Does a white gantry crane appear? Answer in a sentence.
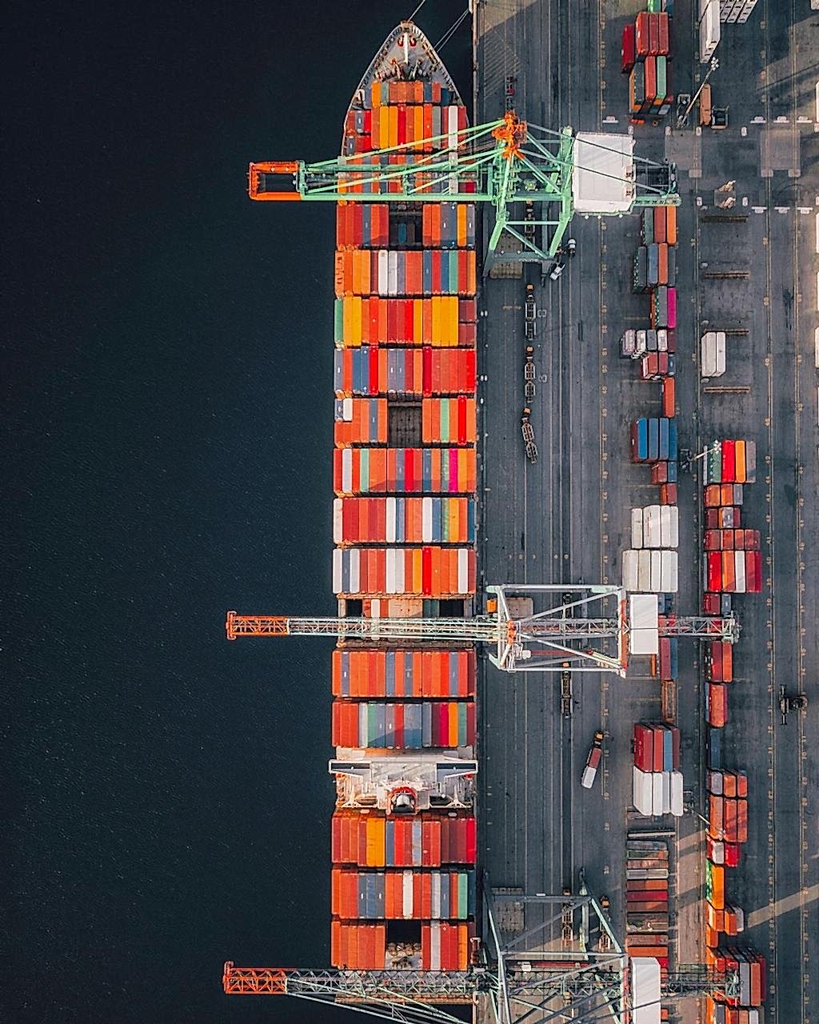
Yes, the image includes a white gantry crane.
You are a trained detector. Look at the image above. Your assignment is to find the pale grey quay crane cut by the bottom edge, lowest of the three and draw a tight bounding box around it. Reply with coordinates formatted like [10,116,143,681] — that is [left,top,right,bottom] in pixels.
[221,870,744,1024]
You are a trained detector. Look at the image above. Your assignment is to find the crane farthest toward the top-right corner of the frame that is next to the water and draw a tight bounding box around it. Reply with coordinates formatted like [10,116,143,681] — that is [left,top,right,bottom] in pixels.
[251,113,681,290]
